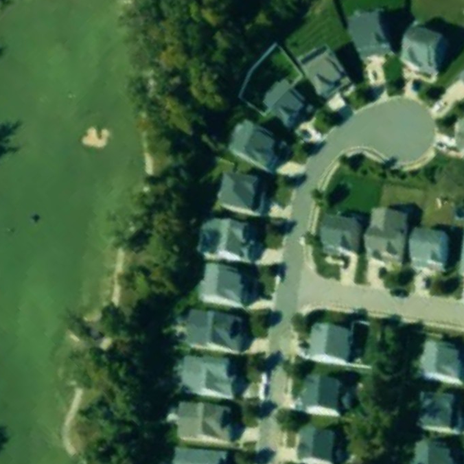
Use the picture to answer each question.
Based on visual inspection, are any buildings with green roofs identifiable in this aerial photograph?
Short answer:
Yes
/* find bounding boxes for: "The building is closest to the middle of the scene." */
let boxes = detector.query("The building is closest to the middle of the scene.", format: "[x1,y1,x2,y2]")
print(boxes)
[199,219,250,260]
